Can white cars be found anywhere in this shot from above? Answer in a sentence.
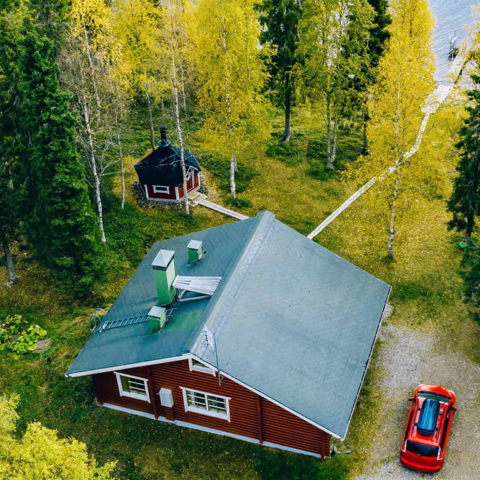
No, the frame has no white car in it.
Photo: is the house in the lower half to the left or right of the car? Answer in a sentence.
Relative to the car, the house in the lower half is on the left.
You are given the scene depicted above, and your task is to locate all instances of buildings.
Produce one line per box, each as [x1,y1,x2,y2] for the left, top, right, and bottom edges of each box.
[135,125,203,203]
[64,212,392,462]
